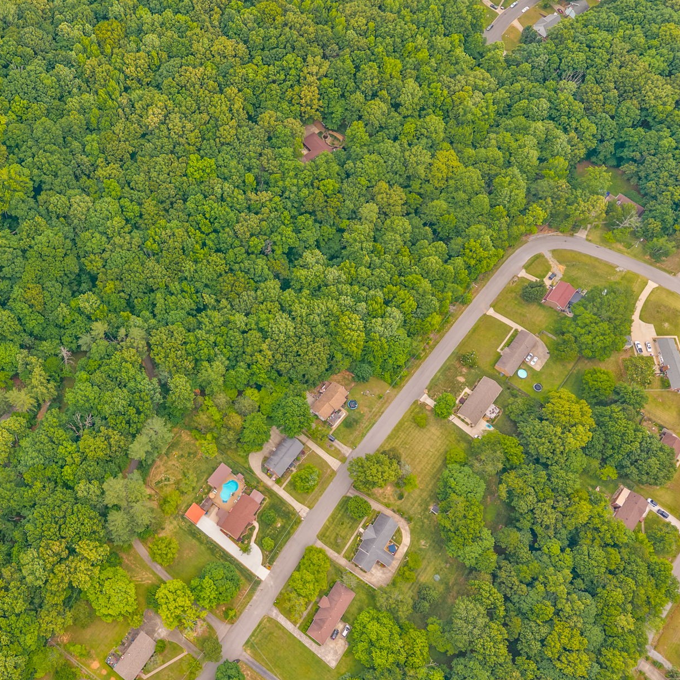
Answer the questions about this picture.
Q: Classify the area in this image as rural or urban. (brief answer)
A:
rural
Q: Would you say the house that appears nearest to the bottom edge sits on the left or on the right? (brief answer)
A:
left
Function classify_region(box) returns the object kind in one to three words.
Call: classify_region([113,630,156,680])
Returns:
house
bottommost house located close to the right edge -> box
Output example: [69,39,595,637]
[612,487,649,527]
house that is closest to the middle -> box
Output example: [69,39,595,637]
[310,383,349,420]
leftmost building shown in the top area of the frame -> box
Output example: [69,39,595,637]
[301,133,332,164]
